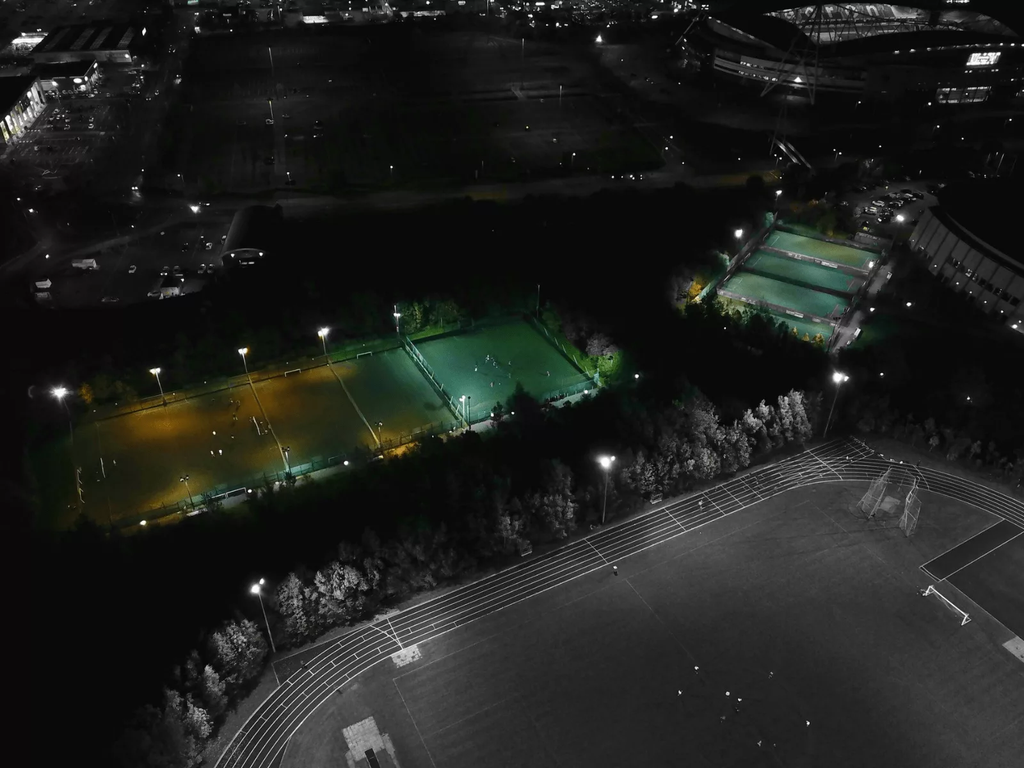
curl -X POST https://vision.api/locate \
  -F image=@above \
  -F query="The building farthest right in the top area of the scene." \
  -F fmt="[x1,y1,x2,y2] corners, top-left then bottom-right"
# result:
[910,171,1024,338]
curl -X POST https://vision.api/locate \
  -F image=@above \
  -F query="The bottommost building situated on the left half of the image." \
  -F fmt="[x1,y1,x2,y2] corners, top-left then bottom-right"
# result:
[157,275,184,297]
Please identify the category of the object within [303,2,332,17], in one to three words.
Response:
building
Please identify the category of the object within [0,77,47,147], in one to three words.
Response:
building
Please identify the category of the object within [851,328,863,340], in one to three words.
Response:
vehicle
